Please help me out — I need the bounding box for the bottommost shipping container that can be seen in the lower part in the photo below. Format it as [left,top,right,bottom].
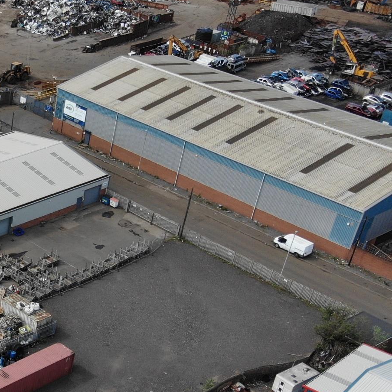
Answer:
[0,342,75,392]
